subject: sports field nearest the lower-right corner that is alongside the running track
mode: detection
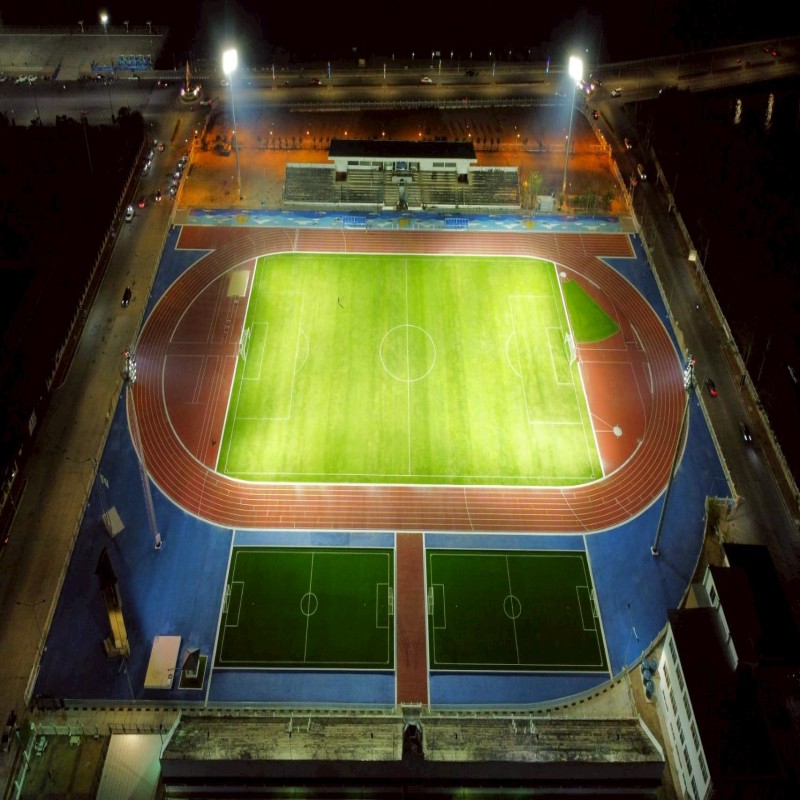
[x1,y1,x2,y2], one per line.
[427,546,609,673]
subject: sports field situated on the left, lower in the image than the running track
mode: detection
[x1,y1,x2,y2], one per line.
[213,544,394,671]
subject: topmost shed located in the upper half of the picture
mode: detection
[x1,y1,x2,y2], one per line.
[538,190,557,211]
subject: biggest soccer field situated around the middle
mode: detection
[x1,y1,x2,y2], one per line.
[214,252,604,486]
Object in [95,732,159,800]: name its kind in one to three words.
shed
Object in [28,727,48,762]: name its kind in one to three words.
car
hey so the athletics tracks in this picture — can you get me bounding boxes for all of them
[128,227,687,533]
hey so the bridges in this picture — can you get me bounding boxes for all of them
[623,31,800,98]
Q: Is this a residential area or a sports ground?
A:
sports ground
